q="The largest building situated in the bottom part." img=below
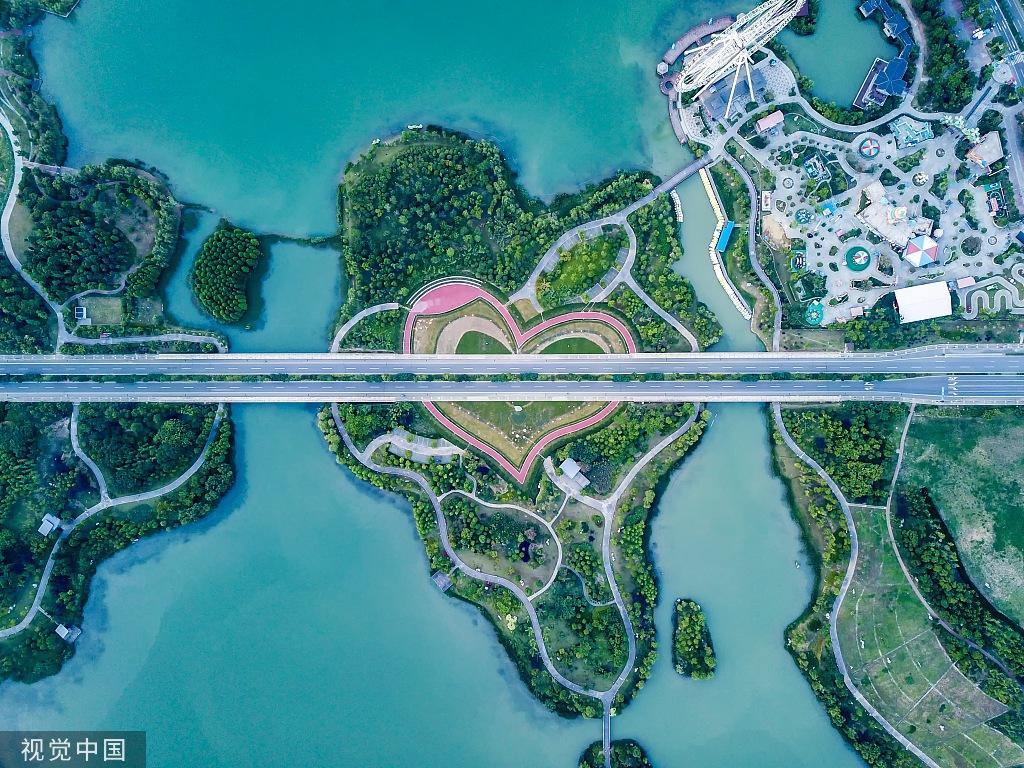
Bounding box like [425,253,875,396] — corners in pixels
[559,458,587,489]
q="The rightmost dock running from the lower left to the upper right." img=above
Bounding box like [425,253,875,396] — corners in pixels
[662,14,736,66]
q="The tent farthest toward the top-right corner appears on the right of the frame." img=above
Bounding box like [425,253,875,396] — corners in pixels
[899,235,938,268]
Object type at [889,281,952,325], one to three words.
tent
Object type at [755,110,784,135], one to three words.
building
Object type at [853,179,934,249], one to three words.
building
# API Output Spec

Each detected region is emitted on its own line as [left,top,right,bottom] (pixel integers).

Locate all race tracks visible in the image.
[956,261,1024,320]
